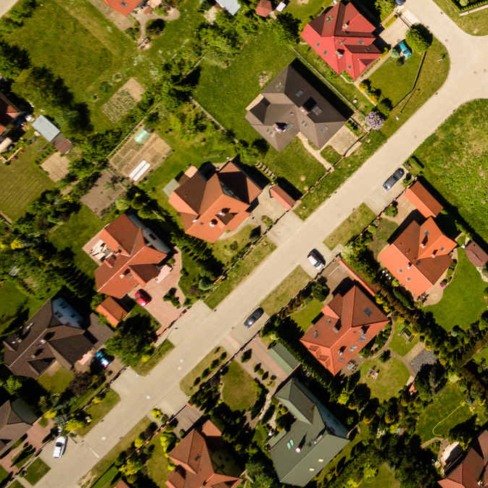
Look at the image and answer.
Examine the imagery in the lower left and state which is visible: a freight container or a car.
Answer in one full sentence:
You can see a car in the lower left.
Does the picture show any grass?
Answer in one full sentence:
Yes, grass can be seen from above here.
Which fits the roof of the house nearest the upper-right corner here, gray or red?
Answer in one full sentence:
From above, the roof of the house nearest the upper-right corner appears red.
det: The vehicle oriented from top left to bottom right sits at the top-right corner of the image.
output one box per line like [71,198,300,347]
[396,37,414,60]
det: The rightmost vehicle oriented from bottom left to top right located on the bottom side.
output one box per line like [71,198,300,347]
[240,304,268,331]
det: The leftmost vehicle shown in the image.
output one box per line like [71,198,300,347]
[52,432,71,462]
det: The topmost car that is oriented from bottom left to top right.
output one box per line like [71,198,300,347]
[381,166,407,193]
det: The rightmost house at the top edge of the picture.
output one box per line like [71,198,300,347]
[300,1,382,80]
